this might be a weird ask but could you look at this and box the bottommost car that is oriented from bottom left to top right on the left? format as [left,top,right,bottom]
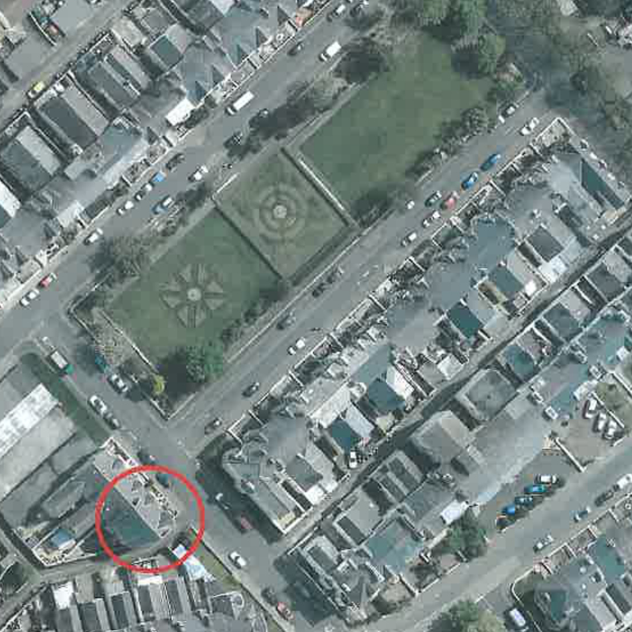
[204,415,224,434]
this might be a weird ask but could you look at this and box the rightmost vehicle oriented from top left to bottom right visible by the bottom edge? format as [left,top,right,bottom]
[505,605,530,632]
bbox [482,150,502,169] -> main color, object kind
blue car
